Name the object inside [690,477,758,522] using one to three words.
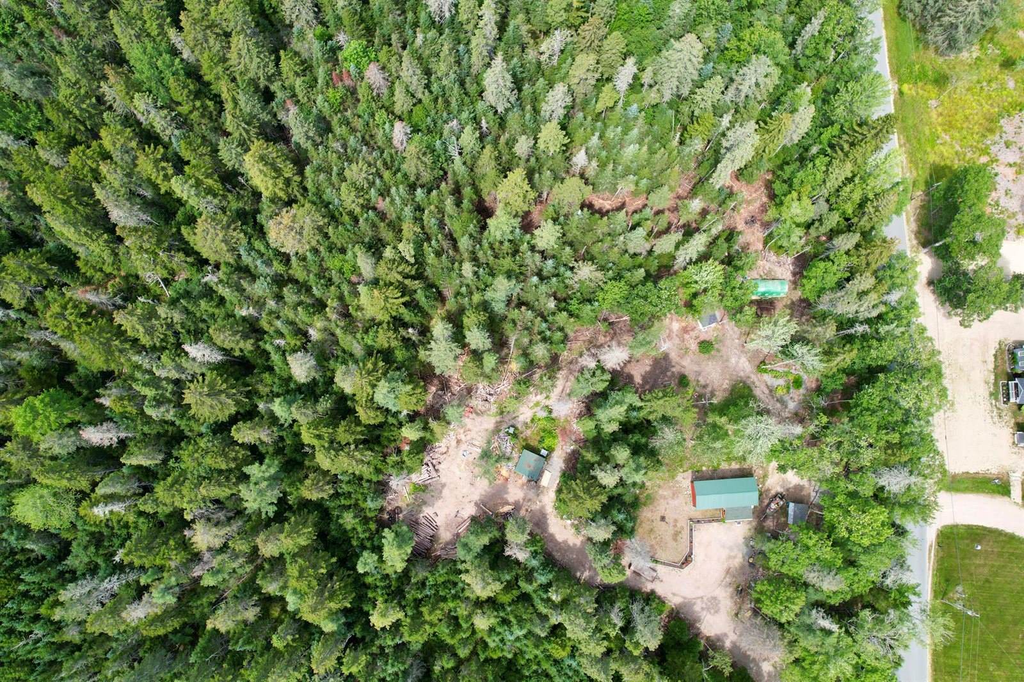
building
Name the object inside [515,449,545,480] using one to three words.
shed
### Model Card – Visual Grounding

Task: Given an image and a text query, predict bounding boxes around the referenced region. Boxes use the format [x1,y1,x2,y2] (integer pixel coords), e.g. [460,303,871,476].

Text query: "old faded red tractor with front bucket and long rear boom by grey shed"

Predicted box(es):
[756,490,791,521]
